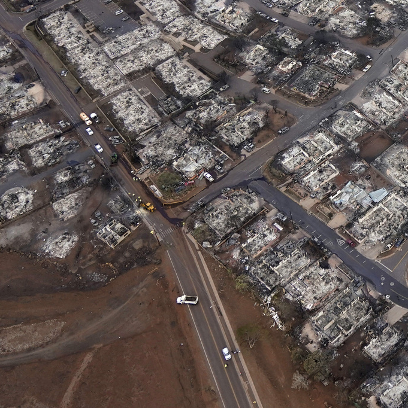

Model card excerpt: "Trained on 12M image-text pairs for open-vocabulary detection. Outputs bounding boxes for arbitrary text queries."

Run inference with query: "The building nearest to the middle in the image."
[138,126,189,165]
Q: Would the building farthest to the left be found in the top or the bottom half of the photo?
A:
top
